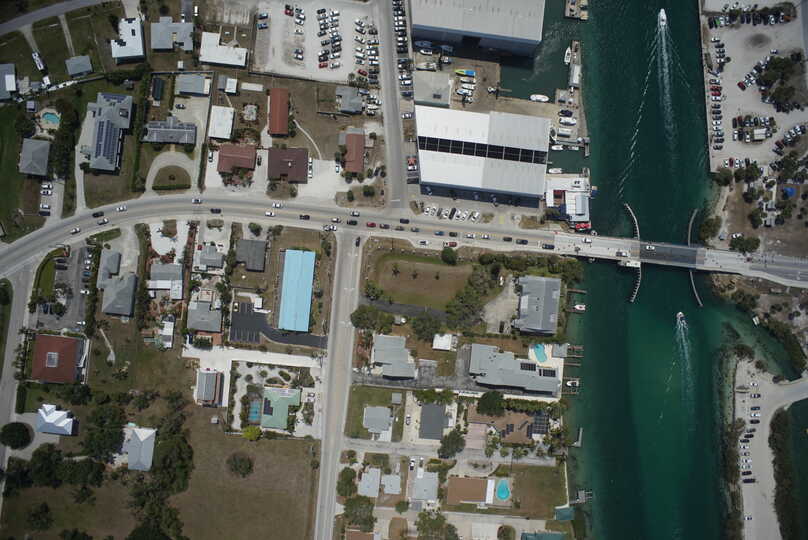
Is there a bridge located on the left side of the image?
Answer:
No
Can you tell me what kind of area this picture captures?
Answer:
residential area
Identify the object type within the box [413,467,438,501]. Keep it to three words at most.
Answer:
house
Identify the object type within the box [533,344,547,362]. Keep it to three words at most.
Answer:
swimming pool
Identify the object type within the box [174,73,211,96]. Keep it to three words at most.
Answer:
shed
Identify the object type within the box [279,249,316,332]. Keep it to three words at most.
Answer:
building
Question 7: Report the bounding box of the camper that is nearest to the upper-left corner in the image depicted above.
[31,51,46,71]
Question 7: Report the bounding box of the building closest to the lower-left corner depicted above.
[36,401,77,435]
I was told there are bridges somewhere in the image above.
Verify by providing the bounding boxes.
[548,231,757,276]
